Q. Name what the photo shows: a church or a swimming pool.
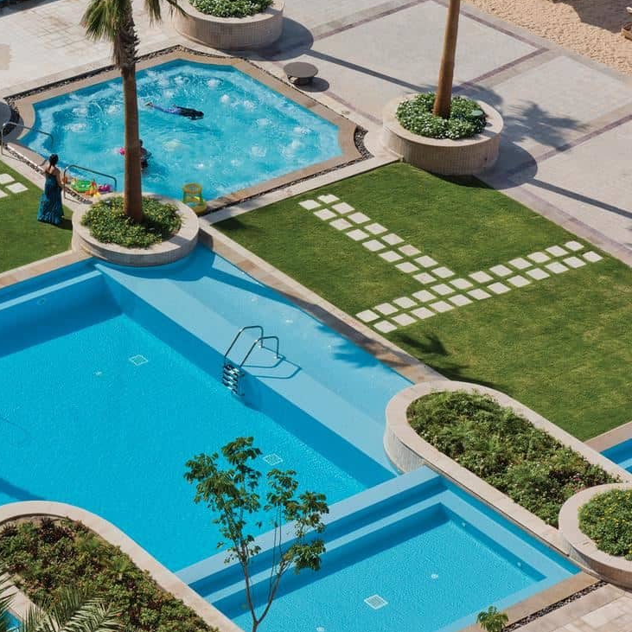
swimming pool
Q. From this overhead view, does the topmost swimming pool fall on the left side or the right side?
left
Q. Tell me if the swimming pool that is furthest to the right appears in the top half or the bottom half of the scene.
bottom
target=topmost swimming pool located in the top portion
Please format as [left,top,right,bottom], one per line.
[21,64,339,203]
